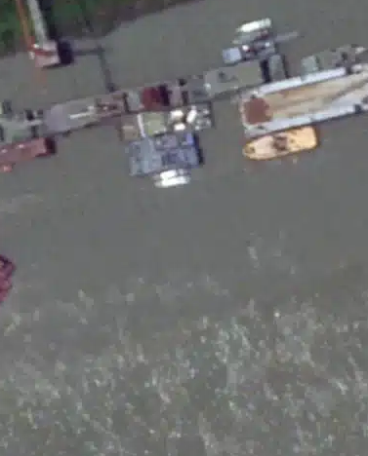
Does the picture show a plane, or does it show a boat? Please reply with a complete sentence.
Looking from above, you can make out a boat.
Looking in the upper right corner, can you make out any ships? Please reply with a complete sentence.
Yes, a ship is visible in the upper right corner.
